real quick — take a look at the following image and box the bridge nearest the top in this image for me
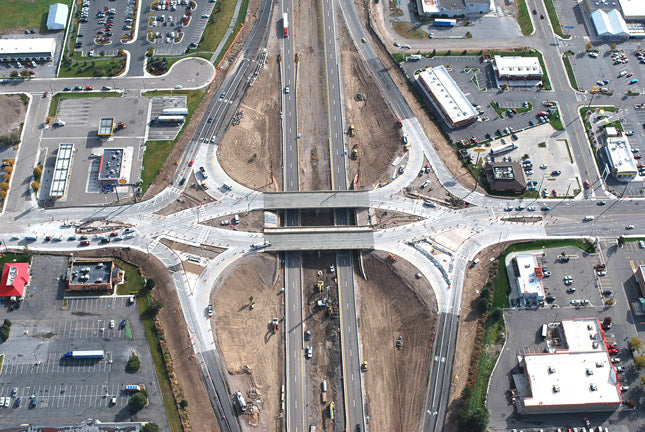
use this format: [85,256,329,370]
[263,189,373,211]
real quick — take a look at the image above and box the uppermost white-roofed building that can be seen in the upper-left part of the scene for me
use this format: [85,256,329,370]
[47,3,69,30]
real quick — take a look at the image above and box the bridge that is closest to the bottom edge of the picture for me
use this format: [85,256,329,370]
[264,223,375,251]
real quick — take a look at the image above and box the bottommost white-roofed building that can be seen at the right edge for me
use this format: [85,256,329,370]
[511,317,625,414]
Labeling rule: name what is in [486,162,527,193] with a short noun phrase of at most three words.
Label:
building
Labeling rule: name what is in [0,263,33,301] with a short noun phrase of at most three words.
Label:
building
